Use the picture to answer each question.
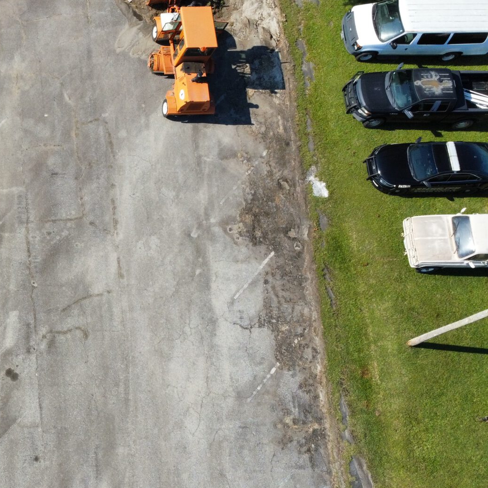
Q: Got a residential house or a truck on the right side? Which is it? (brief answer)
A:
truck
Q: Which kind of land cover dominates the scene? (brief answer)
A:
paved ground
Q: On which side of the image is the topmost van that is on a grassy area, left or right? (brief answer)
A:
right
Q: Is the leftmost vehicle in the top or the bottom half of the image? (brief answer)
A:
top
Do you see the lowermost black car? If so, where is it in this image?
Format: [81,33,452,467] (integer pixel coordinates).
[360,137,488,197]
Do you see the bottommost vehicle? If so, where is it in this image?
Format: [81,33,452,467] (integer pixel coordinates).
[396,207,488,272]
